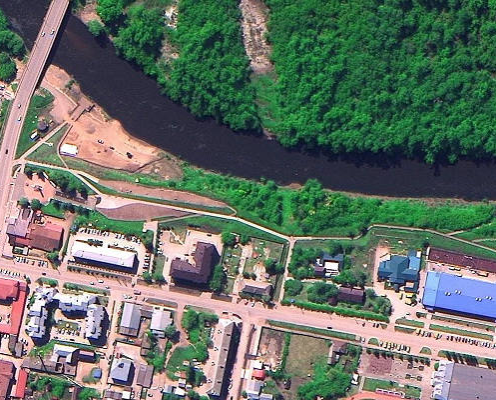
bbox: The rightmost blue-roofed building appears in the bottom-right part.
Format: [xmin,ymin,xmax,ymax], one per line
[422,271,496,320]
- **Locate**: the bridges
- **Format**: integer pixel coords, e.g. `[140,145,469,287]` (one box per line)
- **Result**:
[17,0,69,101]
